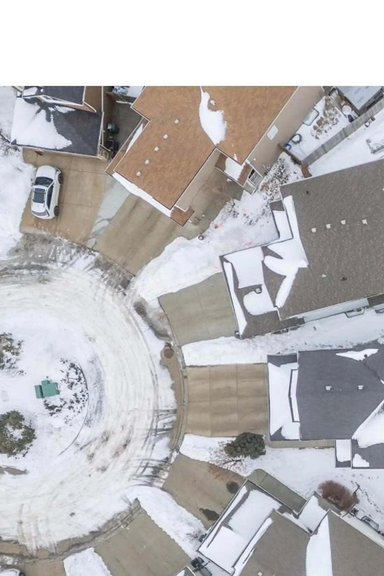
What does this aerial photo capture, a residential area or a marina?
residential area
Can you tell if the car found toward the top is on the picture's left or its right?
left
